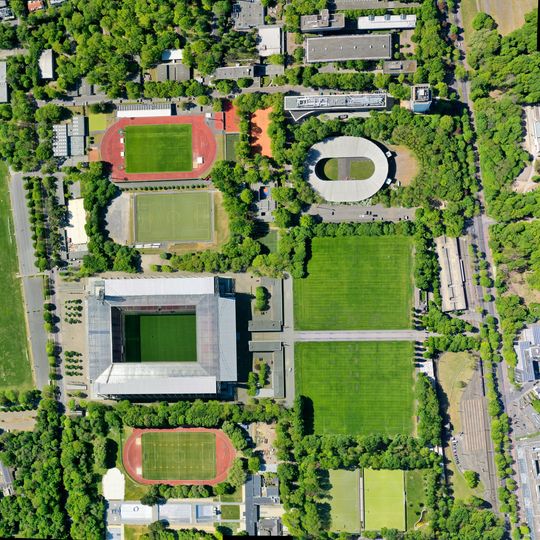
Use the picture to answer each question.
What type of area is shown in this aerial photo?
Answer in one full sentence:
This image shows a sports ground.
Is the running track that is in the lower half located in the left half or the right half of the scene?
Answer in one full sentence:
You can find the running track that is in the lower half on the left side of the picture.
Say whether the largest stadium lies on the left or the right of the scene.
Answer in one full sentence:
You can find the largest stadium on the left side of the picture.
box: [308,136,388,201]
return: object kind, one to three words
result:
race track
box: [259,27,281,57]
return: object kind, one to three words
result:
building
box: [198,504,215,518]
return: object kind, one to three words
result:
swimming pool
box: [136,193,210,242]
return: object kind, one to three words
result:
soccer field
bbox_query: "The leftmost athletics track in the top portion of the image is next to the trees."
[100,117,216,181]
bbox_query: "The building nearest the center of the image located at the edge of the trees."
[248,277,282,331]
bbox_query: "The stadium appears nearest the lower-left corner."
[88,277,237,403]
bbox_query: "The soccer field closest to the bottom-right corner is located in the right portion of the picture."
[364,469,404,531]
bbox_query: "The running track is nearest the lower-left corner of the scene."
[122,428,236,487]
